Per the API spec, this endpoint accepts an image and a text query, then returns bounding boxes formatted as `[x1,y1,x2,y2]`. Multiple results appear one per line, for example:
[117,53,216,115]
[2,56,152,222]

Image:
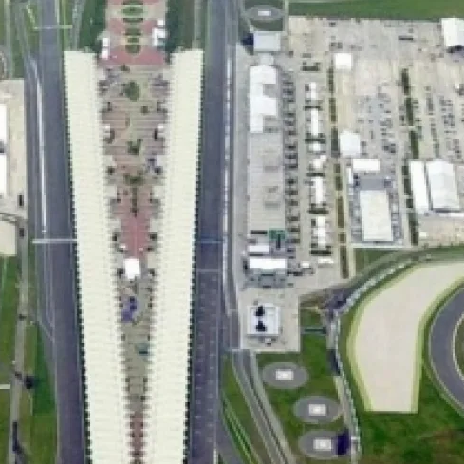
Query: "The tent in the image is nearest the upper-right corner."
[336,51,352,73]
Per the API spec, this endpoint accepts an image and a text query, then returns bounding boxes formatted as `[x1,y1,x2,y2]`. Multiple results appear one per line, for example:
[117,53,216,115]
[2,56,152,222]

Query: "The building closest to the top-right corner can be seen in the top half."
[442,14,464,52]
